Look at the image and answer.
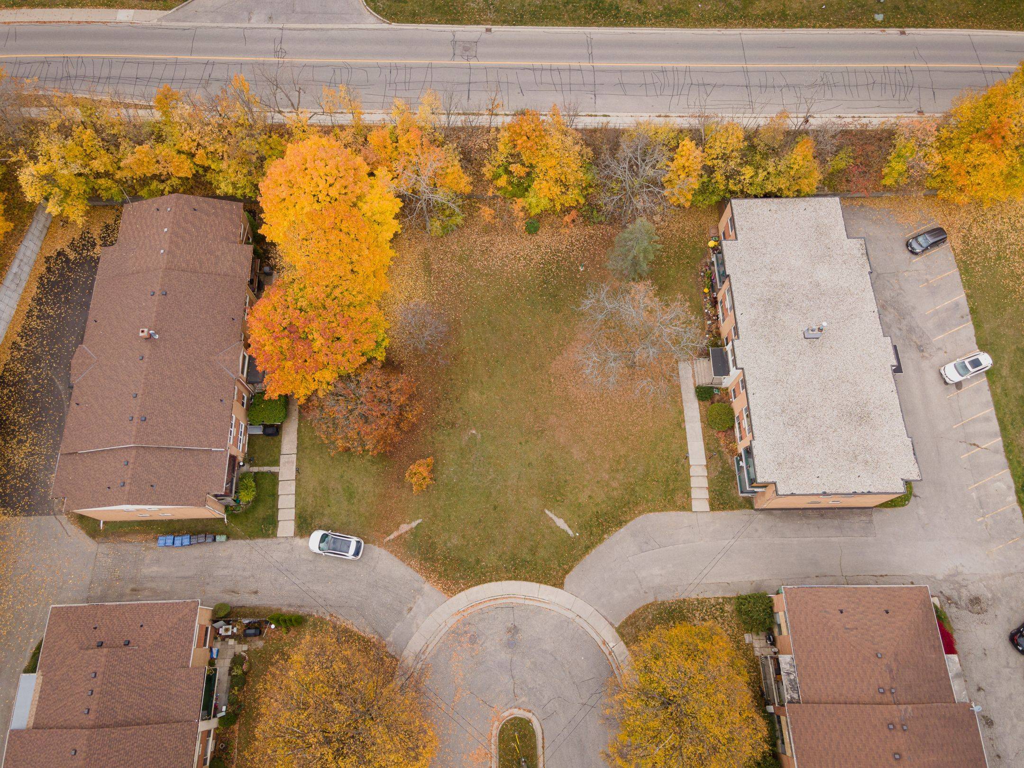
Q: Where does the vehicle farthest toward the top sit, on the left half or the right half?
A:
right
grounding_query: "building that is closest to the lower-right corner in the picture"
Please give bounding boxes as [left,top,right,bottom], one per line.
[748,585,986,768]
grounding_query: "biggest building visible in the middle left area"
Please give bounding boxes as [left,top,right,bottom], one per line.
[53,193,285,535]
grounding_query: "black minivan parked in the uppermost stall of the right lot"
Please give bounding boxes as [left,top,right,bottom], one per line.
[904,221,953,256]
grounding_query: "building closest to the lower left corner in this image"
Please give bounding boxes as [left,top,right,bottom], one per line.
[3,601,221,768]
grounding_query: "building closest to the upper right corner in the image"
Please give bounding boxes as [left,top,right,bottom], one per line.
[695,198,922,508]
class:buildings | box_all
[748,585,986,768]
[3,601,221,768]
[695,198,922,508]
[53,193,285,535]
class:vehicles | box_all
[308,528,365,560]
[940,349,997,384]
[1006,628,1024,656]
[904,221,953,256]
